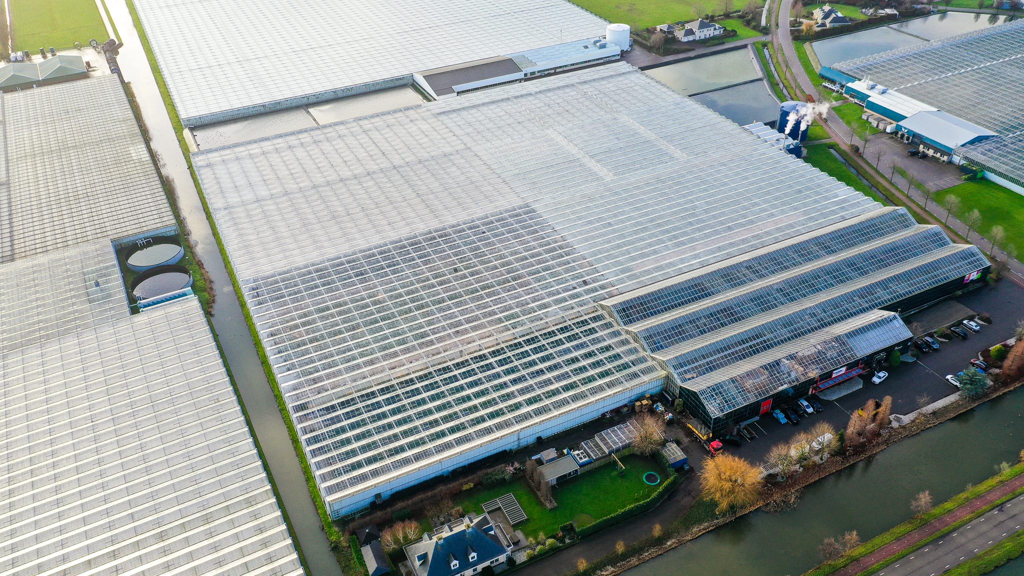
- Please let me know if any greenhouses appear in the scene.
Yes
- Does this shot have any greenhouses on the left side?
Yes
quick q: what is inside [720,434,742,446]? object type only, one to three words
vehicle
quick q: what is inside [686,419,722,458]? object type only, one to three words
truck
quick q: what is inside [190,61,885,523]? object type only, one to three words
greenhouse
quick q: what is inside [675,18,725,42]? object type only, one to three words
house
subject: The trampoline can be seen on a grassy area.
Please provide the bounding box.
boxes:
[642,472,660,486]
